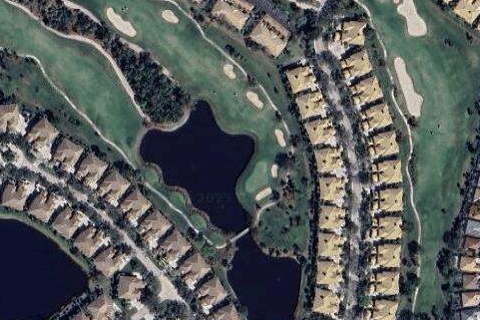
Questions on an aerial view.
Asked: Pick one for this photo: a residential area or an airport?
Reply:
residential area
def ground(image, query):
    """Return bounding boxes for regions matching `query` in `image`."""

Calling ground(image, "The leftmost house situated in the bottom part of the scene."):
[0,180,30,212]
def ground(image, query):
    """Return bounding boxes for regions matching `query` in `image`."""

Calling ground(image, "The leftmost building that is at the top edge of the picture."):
[213,0,255,28]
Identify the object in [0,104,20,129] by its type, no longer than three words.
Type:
house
